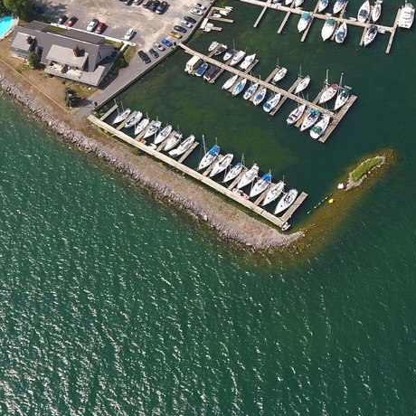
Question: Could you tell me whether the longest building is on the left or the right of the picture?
left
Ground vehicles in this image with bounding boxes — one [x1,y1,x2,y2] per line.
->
[156,2,167,14]
[67,16,79,26]
[132,0,145,6]
[137,49,153,62]
[149,0,161,10]
[168,29,183,40]
[180,18,194,28]
[192,1,208,10]
[86,19,99,31]
[57,14,70,25]
[173,24,188,34]
[183,15,198,24]
[95,21,107,33]
[123,28,136,40]
[140,0,153,10]
[153,41,167,52]
[148,46,162,59]
[190,7,205,16]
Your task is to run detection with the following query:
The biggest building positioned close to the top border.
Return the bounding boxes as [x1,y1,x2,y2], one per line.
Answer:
[11,15,122,89]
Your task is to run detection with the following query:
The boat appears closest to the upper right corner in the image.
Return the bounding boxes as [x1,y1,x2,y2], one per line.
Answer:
[397,0,415,32]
